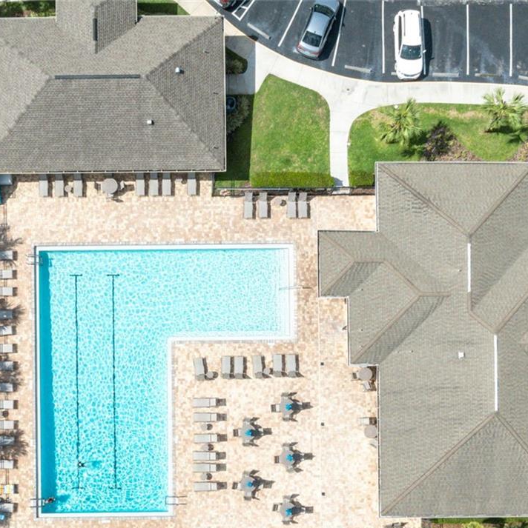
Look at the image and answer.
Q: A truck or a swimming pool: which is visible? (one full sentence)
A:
It is a swimming pool that can be seen here.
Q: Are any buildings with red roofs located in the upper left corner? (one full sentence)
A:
No, no building with a red roof can be made out in the upper left corner.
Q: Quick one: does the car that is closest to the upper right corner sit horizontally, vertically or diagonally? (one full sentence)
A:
What the image shows is the car that is closest to the upper right corner lying vertically.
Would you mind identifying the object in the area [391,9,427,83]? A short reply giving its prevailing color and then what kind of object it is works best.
white car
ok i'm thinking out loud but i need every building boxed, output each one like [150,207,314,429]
[0,0,226,176]
[316,161,528,518]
